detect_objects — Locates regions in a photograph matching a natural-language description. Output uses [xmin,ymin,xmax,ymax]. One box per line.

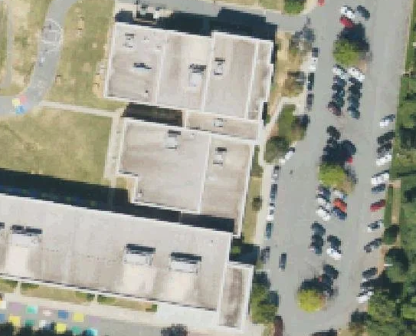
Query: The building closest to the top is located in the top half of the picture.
[103,22,275,131]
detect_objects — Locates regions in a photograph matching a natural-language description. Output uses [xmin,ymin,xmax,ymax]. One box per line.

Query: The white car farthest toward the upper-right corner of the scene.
[340,6,355,18]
